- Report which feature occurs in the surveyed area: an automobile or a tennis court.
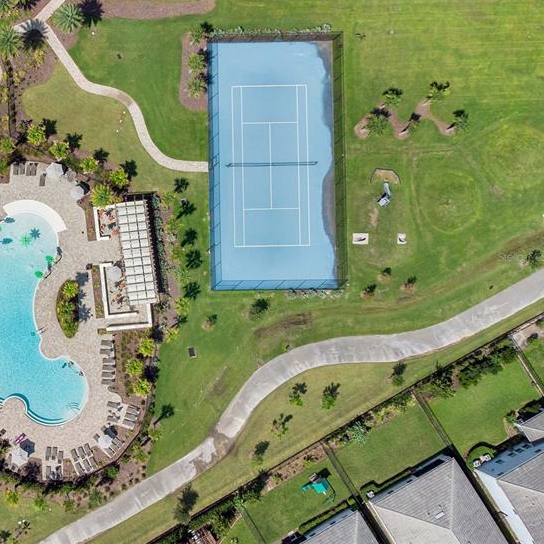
tennis court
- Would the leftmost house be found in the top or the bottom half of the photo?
bottom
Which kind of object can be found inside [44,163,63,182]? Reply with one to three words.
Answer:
umbrella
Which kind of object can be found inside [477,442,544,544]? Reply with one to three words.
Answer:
house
